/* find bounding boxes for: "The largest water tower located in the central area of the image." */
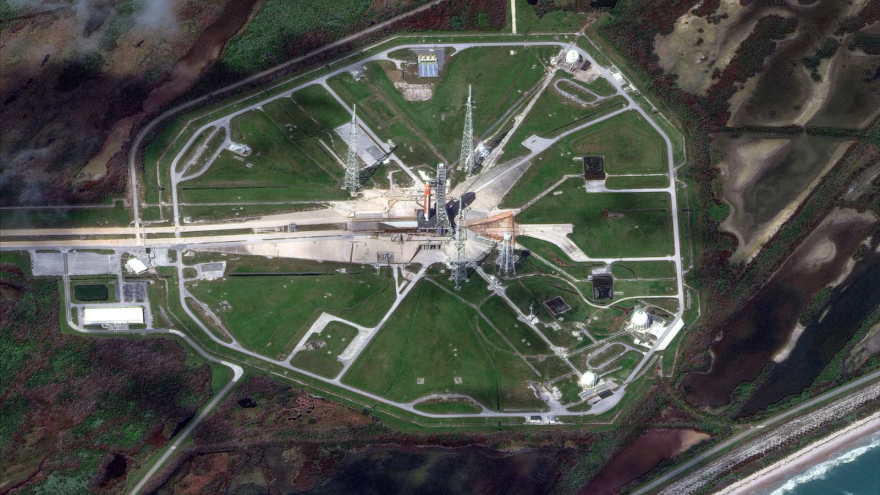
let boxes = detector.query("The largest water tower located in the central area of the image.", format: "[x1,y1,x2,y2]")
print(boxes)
[498,229,516,278]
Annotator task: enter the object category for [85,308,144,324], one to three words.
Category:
building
